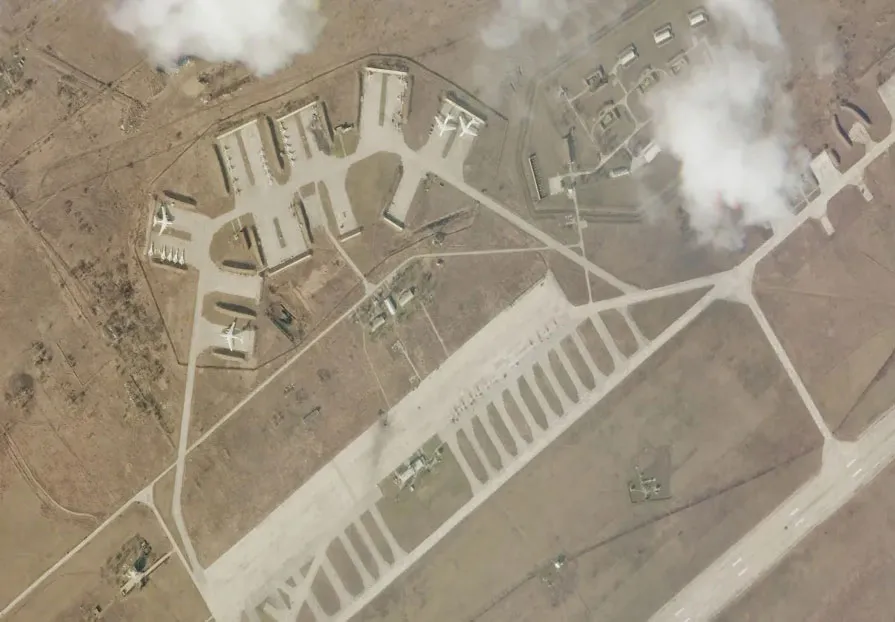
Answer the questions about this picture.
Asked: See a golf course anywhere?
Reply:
No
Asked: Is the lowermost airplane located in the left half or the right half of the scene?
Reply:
left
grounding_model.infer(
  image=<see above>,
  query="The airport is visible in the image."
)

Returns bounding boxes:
[151,69,895,622]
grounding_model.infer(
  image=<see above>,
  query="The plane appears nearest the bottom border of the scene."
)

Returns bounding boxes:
[219,324,243,353]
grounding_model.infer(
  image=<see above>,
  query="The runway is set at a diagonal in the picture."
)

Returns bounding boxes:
[646,405,895,622]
